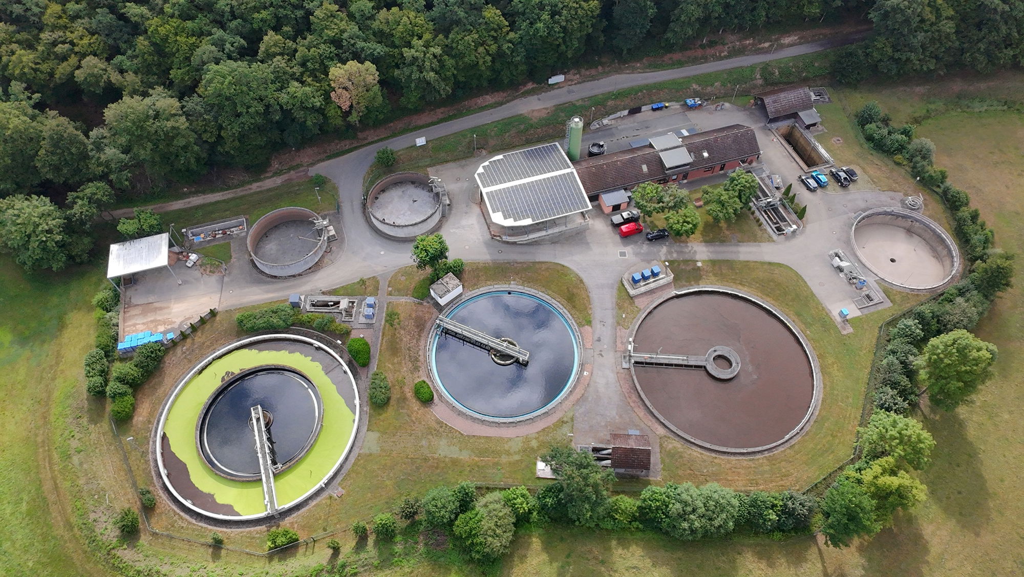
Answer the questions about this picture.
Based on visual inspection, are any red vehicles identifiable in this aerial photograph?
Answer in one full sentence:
Yes, the picture does show a red vehicle.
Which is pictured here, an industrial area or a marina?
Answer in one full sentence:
What you see here is an industrial area.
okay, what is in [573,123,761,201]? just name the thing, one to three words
building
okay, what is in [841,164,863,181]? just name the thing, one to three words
car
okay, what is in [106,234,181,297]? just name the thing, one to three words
shed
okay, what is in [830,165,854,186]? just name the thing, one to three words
truck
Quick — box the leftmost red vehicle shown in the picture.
[618,220,646,238]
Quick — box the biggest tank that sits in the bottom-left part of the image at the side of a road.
[156,334,360,520]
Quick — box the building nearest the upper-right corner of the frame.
[747,83,824,130]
